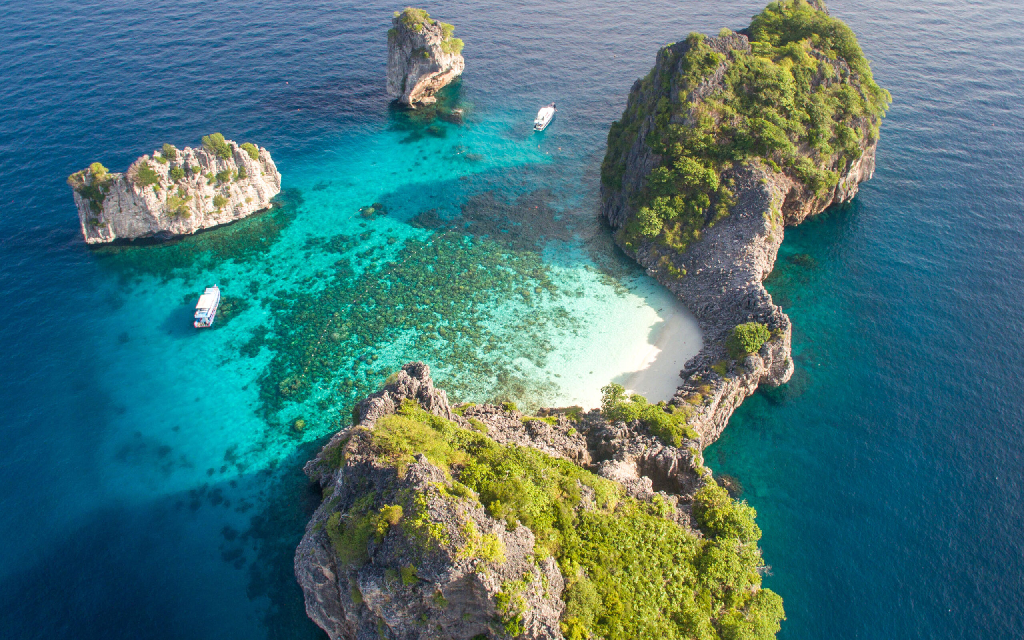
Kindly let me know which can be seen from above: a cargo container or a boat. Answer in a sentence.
I can see a boat in this picture.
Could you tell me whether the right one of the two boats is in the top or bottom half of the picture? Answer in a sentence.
The right one of the two boats is in the top half of the image.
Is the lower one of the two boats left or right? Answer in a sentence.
The lower one of the two boats sits on the left side.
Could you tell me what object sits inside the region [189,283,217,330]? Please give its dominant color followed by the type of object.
white boat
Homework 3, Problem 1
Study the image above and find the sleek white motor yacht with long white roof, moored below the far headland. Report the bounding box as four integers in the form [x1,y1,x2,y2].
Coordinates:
[533,105,555,130]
